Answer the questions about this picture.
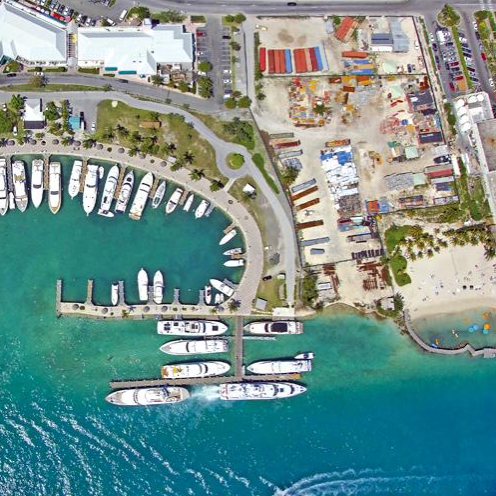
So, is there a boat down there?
Yes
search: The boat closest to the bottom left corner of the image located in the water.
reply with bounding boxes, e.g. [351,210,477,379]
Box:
[105,387,191,405]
